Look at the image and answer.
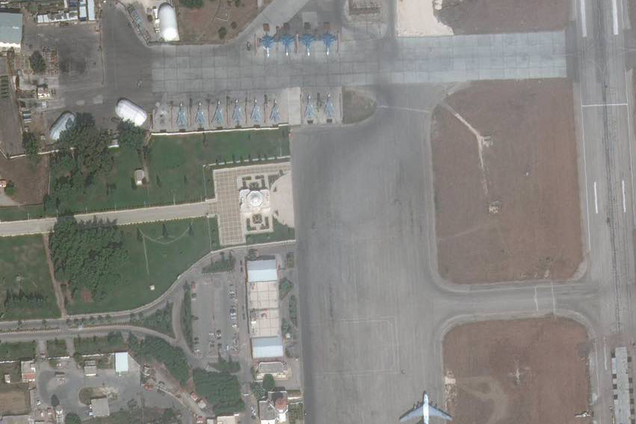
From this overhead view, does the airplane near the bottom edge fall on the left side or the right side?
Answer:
right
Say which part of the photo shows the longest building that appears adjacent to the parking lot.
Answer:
bottom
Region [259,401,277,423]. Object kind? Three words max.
building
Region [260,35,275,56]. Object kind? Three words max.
airplane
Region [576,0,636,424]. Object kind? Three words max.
runway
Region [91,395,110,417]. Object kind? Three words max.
building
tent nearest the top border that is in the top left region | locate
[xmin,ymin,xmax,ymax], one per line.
[158,7,178,43]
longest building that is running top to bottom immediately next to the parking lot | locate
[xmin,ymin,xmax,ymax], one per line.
[247,258,284,363]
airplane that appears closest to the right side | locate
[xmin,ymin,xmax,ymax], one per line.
[401,394,452,424]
